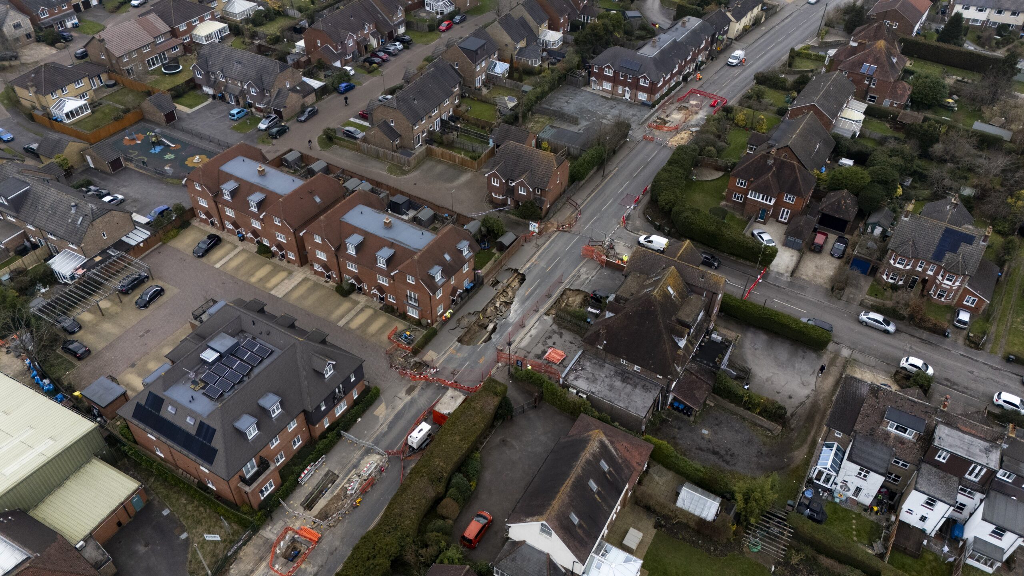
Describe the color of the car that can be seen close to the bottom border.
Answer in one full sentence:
The car that can be seen close to the bottom border looks red in the image.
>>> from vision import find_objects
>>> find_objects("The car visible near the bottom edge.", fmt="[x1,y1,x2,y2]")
[462,509,495,549]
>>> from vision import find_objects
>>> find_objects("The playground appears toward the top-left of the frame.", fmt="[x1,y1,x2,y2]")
[112,122,215,180]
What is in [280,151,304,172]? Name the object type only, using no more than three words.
shed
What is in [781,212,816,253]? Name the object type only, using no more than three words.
building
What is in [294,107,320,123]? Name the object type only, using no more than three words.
car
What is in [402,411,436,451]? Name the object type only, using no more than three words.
trailer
